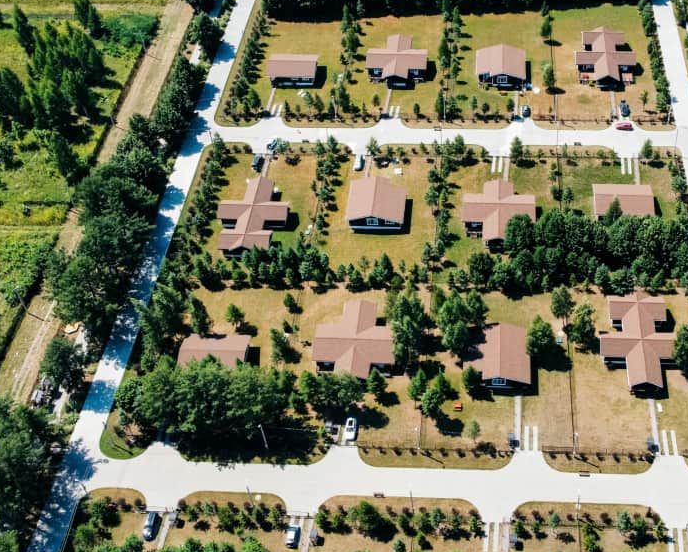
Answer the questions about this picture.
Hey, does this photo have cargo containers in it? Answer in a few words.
No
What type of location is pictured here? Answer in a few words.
residential area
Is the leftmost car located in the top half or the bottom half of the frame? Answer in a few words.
bottom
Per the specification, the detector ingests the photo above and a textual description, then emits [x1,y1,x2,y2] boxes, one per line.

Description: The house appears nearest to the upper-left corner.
[265,55,320,89]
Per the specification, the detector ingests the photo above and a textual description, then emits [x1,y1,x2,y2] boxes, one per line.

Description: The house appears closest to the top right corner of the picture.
[577,28,635,91]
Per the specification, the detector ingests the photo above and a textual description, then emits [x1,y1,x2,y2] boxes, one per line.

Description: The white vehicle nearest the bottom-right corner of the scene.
[343,416,358,441]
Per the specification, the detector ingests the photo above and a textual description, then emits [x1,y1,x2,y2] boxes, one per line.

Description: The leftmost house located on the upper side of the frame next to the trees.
[215,177,289,259]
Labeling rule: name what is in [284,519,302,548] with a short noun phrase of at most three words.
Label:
car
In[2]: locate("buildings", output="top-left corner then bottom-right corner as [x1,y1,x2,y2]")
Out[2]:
[176,330,253,383]
[462,322,533,396]
[366,33,429,89]
[475,43,526,90]
[462,177,536,249]
[215,177,289,259]
[577,28,635,91]
[344,176,408,235]
[592,184,655,223]
[601,293,681,401]
[265,55,320,89]
[312,299,396,393]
